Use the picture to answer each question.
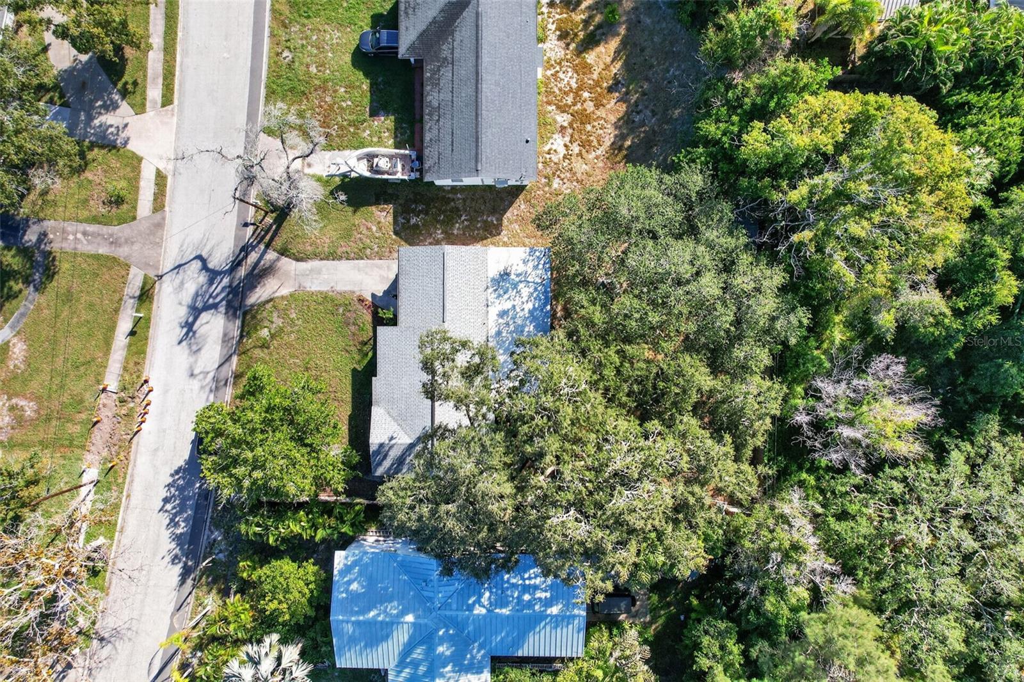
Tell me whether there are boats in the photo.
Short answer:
Yes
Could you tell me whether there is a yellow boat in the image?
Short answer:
No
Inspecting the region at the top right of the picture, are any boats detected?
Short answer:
No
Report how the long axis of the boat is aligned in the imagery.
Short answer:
from side to side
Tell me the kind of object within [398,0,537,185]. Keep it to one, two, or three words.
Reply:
house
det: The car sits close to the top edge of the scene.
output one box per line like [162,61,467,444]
[361,29,398,62]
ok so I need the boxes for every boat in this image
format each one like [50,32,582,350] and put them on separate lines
[341,148,419,179]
